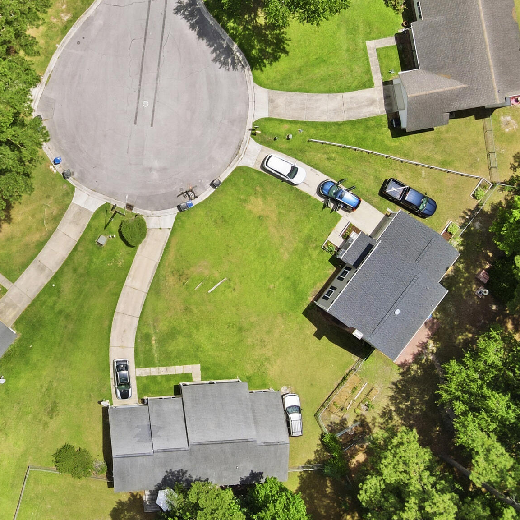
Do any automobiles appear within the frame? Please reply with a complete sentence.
Yes, there is an automobile in the image.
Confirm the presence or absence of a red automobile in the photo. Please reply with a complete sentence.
No, no red automobile is visible in the scene.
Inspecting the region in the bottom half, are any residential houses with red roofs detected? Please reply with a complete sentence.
No, no residential house with a red roof is visible in the bottom half.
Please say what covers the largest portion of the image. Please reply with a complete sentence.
What you mostly see from above here is grass.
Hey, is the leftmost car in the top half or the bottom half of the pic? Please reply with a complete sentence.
The bottom half of the photo is where the leftmost car is.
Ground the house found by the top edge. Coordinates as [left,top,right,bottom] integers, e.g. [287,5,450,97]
[389,0,520,132]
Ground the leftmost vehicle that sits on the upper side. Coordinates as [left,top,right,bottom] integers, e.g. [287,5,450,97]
[260,153,305,185]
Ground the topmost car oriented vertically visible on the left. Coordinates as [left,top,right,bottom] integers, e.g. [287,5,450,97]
[112,356,133,401]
